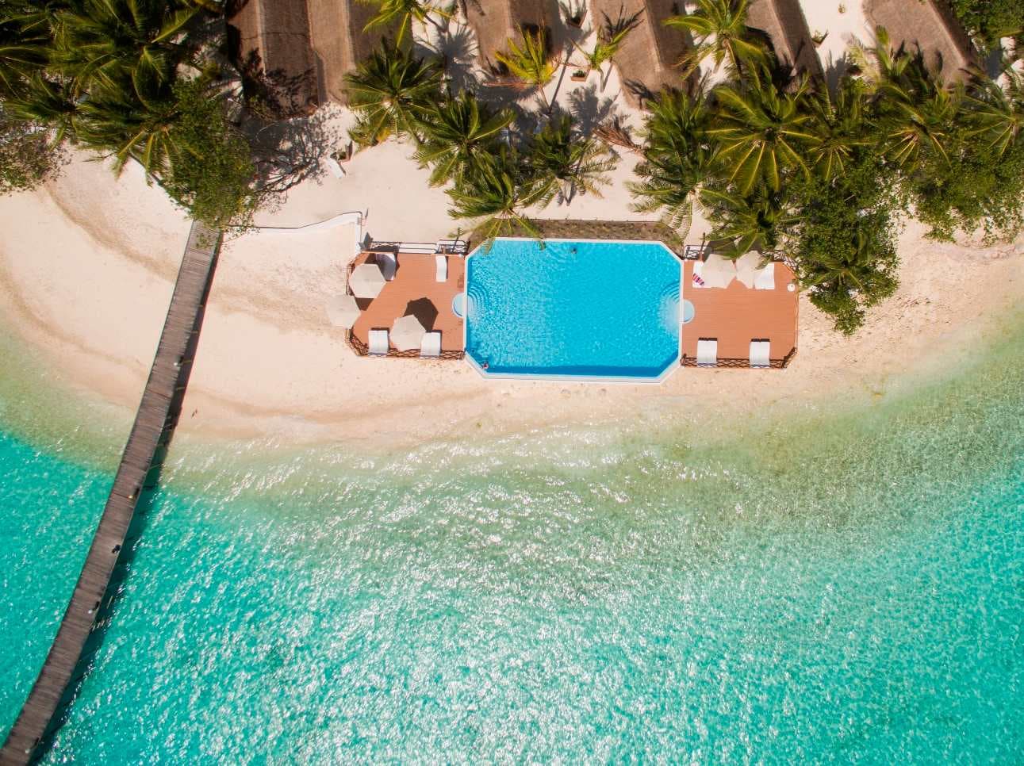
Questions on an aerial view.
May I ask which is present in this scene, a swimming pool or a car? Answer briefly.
swimming pool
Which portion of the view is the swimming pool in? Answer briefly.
center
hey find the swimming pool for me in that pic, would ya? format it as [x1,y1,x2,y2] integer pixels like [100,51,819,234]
[452,238,694,385]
